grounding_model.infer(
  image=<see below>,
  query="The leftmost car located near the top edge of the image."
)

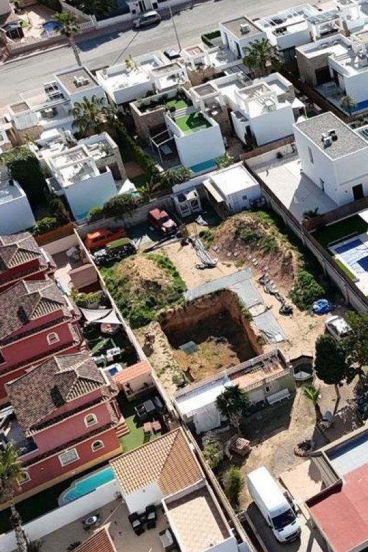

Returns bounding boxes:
[129,7,165,29]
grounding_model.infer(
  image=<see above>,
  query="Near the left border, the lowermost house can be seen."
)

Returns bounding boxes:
[0,367,99,511]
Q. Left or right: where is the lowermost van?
right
